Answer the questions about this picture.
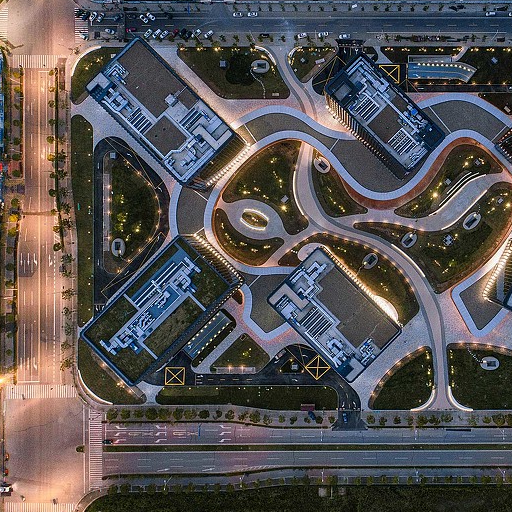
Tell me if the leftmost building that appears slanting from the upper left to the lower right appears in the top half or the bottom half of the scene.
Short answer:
top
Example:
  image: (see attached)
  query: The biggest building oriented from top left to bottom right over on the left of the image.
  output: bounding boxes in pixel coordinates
[85,37,248,183]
